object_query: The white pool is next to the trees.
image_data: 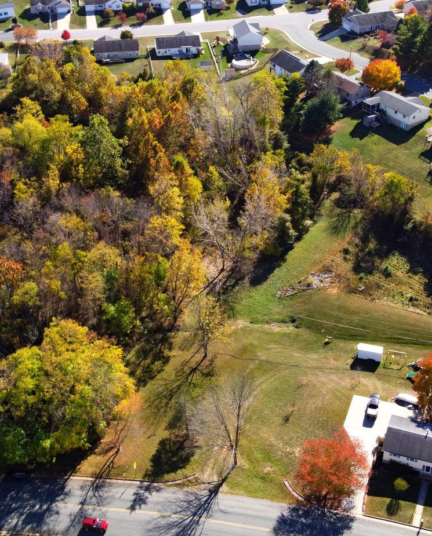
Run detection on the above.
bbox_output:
[224,50,254,67]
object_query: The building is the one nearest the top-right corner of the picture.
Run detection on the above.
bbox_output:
[392,0,432,21]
